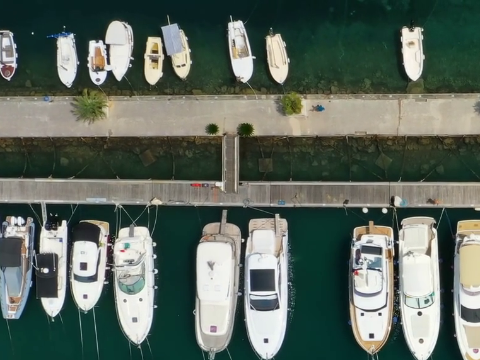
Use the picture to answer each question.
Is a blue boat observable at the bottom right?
No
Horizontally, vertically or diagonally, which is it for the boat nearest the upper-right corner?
vertically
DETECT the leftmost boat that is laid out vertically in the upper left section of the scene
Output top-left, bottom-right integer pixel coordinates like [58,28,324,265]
[0,33,20,81]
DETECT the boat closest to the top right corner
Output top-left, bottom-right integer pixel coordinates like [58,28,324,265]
[400,19,426,81]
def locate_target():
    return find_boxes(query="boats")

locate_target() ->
[226,15,257,84]
[112,225,157,349]
[39,25,80,90]
[395,217,443,360]
[244,214,291,360]
[262,25,291,85]
[0,33,20,81]
[69,221,112,316]
[0,214,35,319]
[105,21,136,83]
[450,220,480,360]
[346,221,397,360]
[84,40,109,85]
[33,205,70,321]
[161,14,193,81]
[192,210,245,358]
[142,37,167,86]
[400,19,426,81]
